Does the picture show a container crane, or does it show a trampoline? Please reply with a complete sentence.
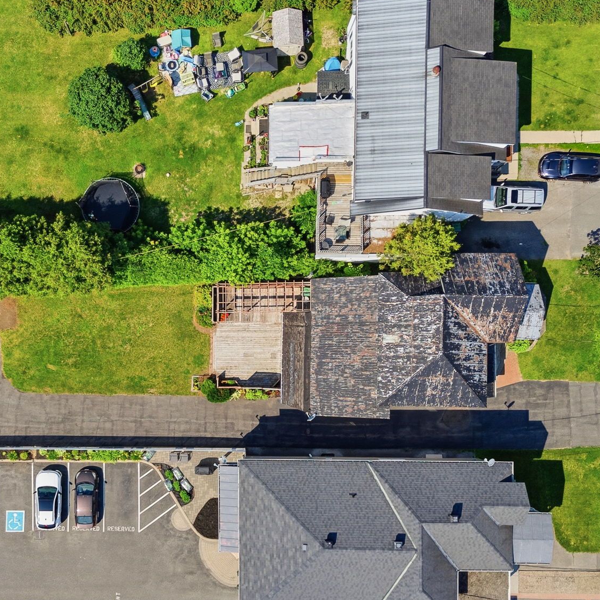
There is a trampoline in the scene.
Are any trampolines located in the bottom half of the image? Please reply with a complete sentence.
No, no trampoline is visible in the bottom half of the image.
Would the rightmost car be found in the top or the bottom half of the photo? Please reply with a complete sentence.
It is in the top half that the rightmost car appears.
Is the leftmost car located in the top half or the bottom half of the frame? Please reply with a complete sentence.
Seen from above, the leftmost car lies in the bottom half of the view.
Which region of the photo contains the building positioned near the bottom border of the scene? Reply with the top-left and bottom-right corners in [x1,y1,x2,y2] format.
[219,453,554,600]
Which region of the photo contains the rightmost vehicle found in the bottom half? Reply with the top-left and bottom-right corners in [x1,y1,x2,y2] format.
[71,468,101,530]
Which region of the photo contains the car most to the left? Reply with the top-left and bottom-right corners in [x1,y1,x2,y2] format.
[32,468,62,529]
